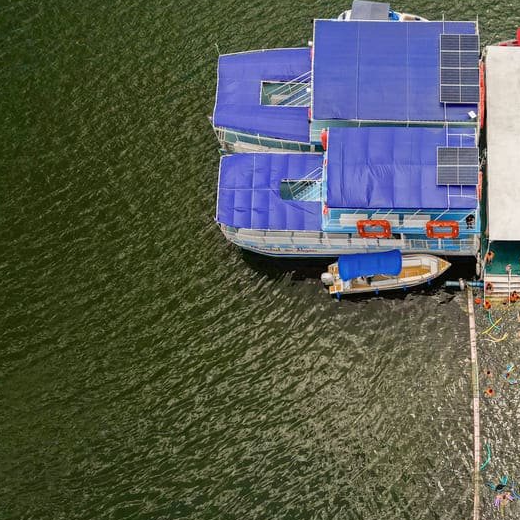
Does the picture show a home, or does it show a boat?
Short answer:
boat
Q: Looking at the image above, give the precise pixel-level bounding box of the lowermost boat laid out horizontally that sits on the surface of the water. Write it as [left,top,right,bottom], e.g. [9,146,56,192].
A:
[322,248,452,300]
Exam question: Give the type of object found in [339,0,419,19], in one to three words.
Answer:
boat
